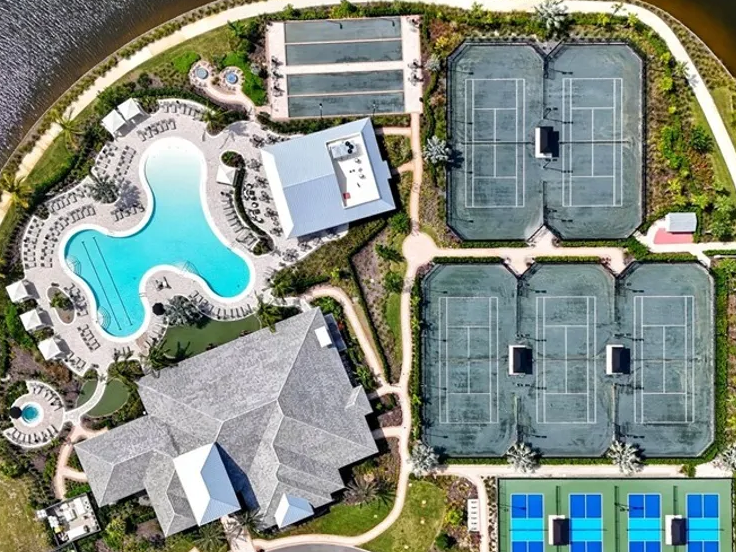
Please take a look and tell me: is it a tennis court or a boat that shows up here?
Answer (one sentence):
Looking from above, you can make out a tennis court.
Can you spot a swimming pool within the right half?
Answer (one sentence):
No, no swimming pool is visible within the right half.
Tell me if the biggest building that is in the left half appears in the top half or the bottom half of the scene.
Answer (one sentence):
The biggest building that is in the left half is in the bottom half of the image.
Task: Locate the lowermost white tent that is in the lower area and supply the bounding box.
[40,337,66,360]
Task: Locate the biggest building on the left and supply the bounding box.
[74,308,377,537]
